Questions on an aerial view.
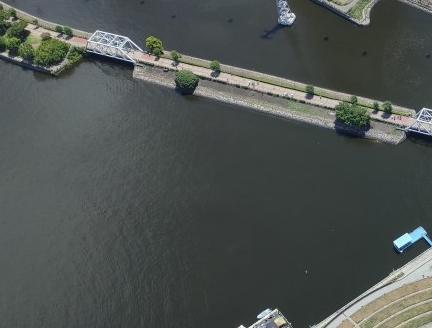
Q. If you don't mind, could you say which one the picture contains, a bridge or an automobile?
bridge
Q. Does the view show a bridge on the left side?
Yes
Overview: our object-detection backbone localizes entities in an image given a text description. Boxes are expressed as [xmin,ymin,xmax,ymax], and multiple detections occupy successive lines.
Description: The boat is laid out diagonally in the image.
[253,307,273,321]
